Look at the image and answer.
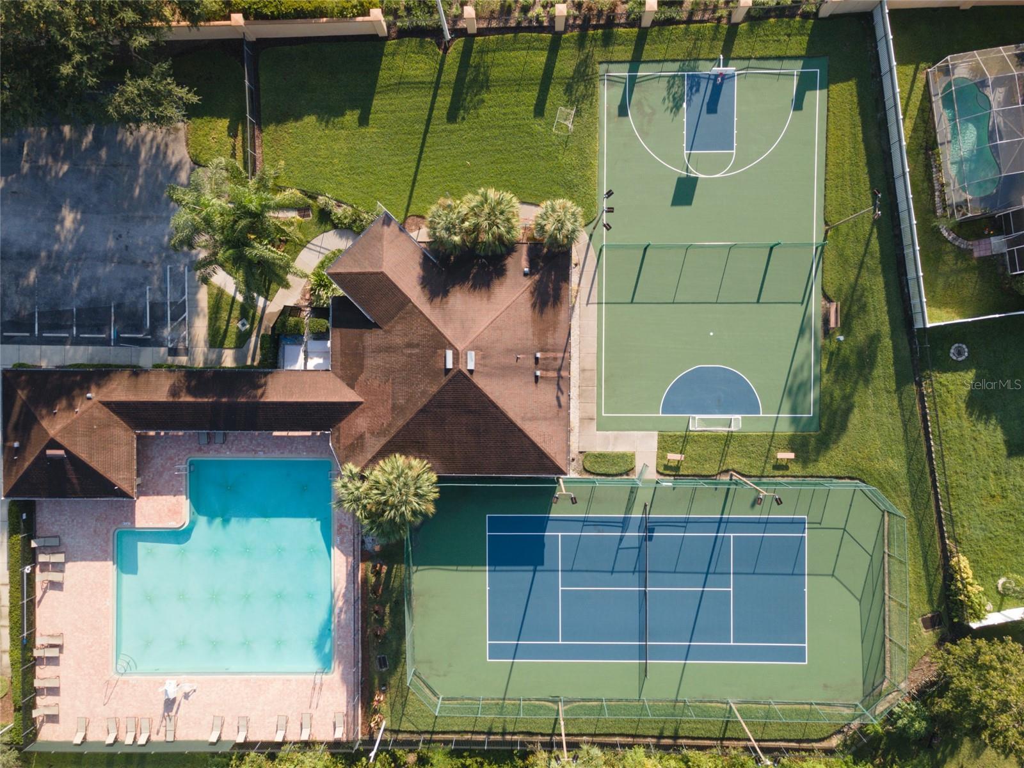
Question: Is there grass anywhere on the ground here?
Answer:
Yes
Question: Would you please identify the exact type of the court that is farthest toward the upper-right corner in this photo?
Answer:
basketball court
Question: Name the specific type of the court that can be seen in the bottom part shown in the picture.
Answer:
tennis court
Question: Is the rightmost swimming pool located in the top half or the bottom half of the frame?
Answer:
top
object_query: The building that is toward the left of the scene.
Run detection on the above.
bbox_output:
[1,203,572,500]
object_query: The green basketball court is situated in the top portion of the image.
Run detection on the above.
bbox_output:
[585,57,829,431]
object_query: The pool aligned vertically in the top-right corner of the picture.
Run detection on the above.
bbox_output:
[940,74,1004,200]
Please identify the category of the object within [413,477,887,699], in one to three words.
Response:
tennis court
